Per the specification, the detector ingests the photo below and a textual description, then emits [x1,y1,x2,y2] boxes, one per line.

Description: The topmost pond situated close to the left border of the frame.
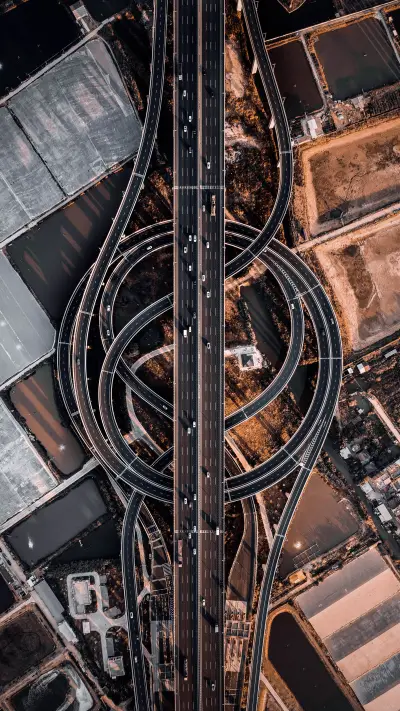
[0,0,80,90]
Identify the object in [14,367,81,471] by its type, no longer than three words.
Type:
pond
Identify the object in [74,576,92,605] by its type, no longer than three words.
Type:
building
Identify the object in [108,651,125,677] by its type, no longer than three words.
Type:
building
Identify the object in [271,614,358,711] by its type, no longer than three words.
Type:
pond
